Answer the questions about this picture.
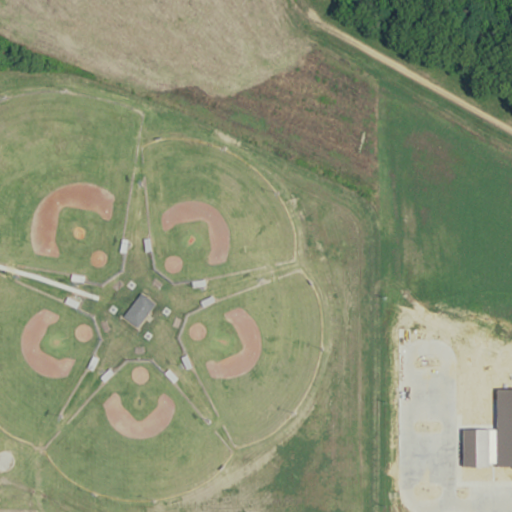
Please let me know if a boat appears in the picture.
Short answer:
No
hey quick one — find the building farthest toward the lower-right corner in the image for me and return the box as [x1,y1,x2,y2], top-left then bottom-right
[464,389,512,468]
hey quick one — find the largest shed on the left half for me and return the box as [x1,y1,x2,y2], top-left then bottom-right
[123,292,156,328]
